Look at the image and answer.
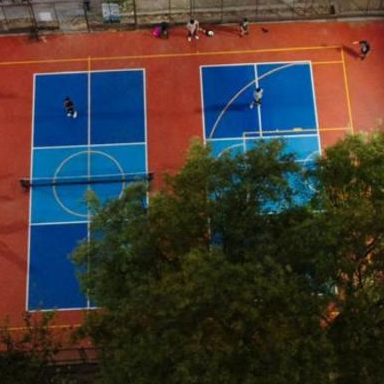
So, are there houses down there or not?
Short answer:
No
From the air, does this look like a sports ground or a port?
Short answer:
sports ground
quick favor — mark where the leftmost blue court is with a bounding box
[26,68,150,311]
